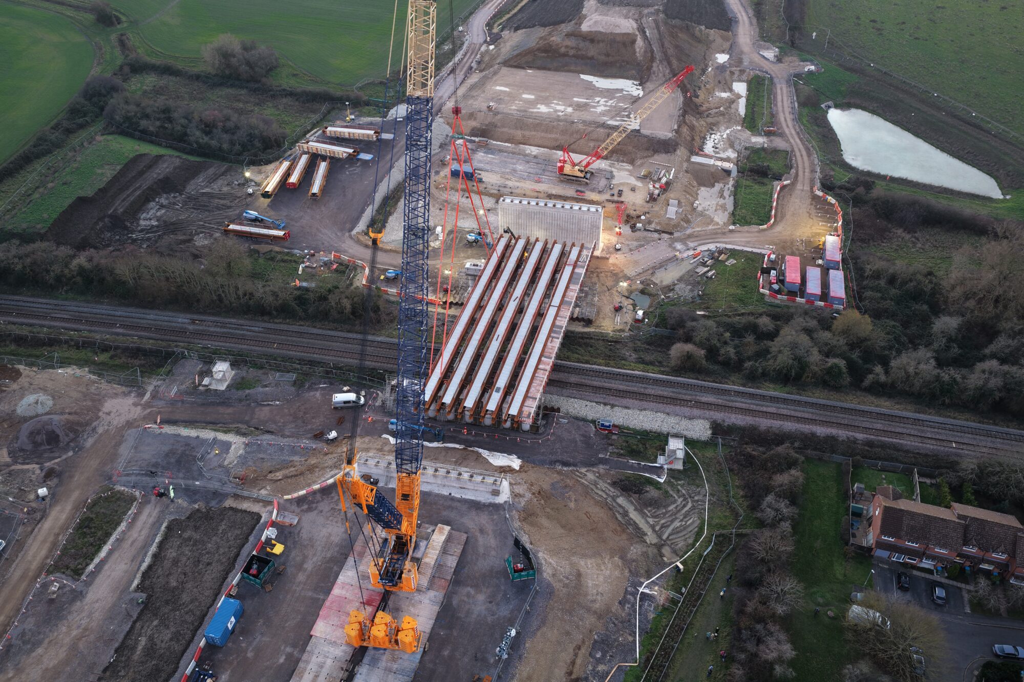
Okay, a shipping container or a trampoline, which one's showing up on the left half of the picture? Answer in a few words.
shipping container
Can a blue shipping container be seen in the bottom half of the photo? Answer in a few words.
Yes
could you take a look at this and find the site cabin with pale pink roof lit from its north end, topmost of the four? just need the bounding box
[826,233,844,268]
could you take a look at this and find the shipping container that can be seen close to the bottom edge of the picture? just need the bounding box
[200,599,239,648]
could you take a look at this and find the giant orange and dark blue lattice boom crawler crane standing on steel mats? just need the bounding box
[327,0,453,614]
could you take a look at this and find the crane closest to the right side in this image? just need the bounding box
[554,67,692,187]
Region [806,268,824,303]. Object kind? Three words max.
building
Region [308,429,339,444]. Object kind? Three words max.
work vehicle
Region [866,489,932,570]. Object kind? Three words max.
house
